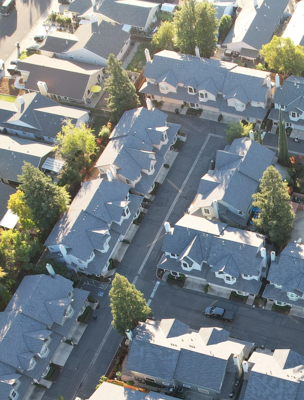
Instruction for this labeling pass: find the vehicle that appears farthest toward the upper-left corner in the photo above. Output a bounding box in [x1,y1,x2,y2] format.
[0,0,17,14]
